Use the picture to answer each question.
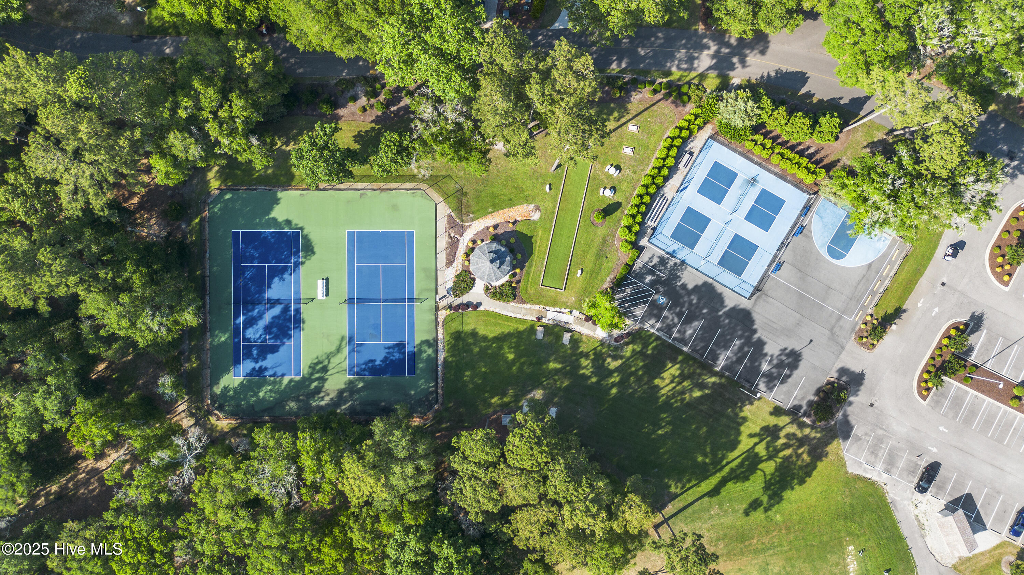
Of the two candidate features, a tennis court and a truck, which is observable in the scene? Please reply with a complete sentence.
Visible in the photo is a tennis court.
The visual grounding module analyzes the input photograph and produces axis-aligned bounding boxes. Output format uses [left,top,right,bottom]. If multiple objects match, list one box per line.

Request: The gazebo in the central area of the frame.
[468,241,512,285]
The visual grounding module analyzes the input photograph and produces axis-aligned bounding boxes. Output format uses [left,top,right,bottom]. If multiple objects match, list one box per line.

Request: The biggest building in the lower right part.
[930,507,978,559]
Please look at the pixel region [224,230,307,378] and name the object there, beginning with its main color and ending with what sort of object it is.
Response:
blue tennis court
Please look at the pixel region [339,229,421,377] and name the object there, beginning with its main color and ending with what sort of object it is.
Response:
blue tennis court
